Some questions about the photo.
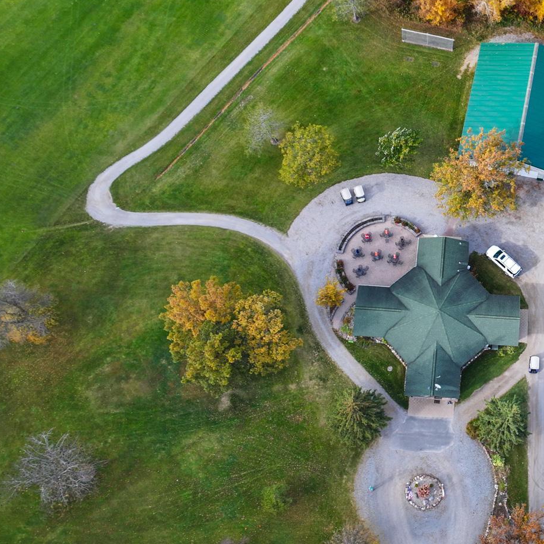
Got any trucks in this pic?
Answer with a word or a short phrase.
No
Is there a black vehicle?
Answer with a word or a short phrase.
No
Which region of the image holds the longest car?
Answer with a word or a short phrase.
right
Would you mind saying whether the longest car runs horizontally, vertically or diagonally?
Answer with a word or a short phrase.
diagonally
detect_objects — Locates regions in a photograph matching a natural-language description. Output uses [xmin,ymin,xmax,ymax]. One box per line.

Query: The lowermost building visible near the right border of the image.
[352,237,520,400]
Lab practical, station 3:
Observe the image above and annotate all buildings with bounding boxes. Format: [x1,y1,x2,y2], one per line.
[459,43,544,181]
[352,237,520,400]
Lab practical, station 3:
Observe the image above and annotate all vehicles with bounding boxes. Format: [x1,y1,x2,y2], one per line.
[527,356,539,375]
[486,246,523,281]
[354,184,367,203]
[341,187,354,206]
